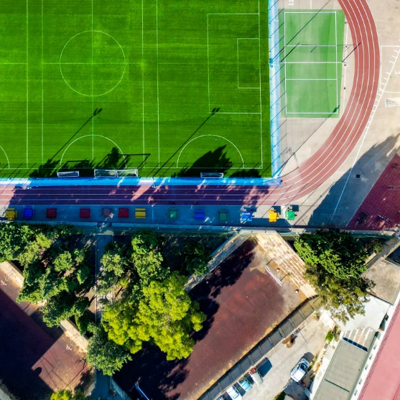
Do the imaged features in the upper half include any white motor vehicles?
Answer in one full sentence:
No, there is no white motor vehicle in the upper half.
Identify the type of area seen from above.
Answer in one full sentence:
What you see here is a sports ground.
